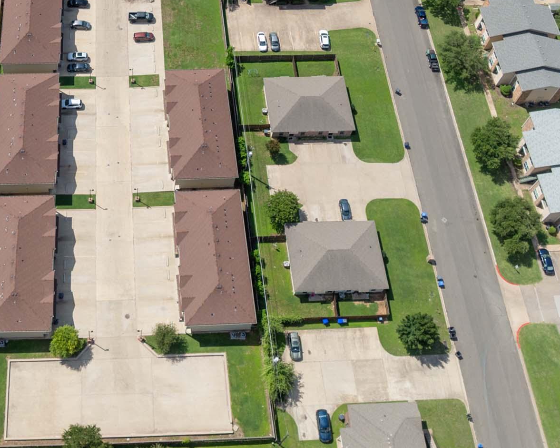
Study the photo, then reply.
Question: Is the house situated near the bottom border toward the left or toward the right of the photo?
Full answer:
The house situated near the bottom border is on the right side of the image.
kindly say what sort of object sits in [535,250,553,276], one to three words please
car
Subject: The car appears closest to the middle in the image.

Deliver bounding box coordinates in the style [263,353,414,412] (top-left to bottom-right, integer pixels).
[338,199,353,221]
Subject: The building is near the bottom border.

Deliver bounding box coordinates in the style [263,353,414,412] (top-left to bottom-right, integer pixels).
[339,401,427,448]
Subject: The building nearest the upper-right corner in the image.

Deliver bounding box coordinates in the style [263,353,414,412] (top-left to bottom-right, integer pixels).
[475,0,560,103]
